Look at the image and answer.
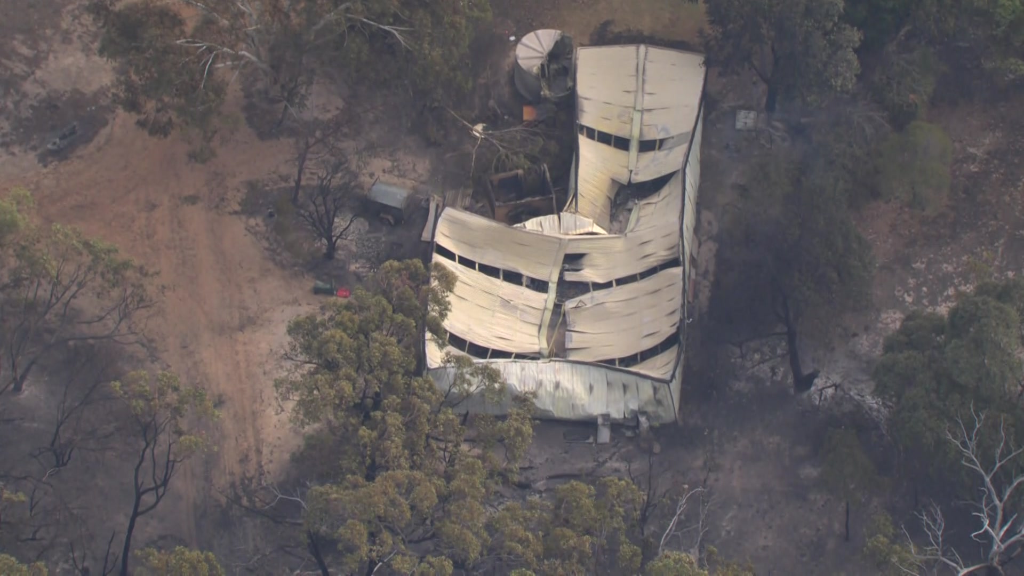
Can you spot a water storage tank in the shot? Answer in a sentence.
Yes, the image includes a water storage tank.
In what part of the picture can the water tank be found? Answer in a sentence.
The water tank appears toward the top of the photo.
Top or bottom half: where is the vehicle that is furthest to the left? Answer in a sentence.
The vehicle that is furthest to the left sits in the top half of the picture.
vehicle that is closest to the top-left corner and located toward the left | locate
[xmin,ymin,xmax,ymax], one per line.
[34,111,90,156]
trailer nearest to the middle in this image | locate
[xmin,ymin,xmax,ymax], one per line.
[369,177,424,226]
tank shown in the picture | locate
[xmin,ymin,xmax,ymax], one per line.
[515,34,574,102]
